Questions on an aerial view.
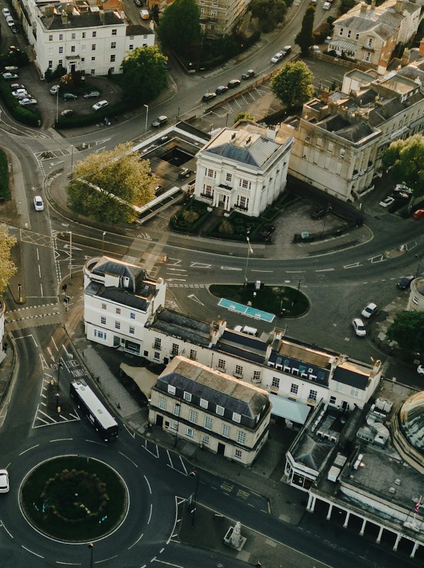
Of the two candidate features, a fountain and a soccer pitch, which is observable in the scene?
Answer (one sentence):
This aerial view contains a fountain.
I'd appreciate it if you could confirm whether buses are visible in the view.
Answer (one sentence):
Yes, looking at the shot, I can spot a bus.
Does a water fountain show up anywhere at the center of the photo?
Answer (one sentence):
No, there is no water fountain at the center of the photo.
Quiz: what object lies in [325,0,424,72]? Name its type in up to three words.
house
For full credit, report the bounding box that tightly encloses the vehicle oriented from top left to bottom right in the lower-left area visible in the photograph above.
[67,381,125,445]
